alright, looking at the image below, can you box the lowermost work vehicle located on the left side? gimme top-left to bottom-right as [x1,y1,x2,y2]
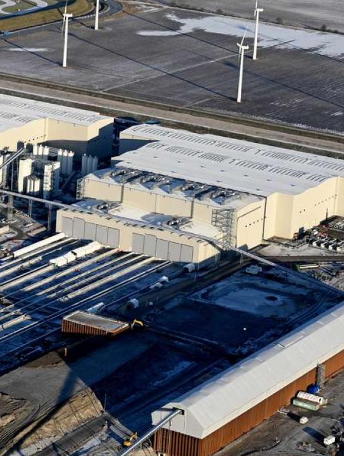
[120,431,143,447]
